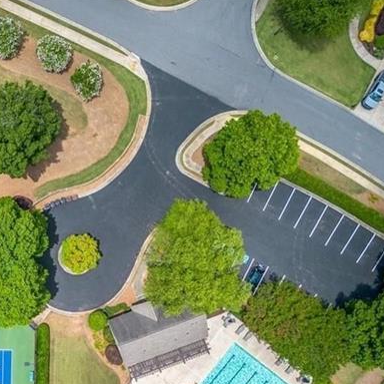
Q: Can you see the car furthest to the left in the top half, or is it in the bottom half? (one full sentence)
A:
Seen from above, the car furthest to the left lies in the bottom half of the view.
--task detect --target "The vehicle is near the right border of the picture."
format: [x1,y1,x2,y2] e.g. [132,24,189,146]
[364,69,384,108]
